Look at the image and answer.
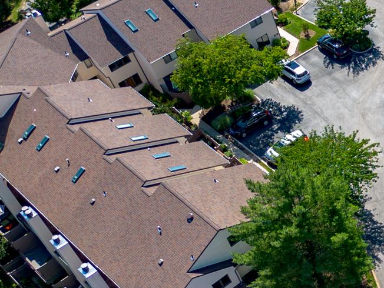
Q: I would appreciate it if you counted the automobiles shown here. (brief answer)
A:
4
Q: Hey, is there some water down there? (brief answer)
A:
No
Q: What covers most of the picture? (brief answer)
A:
buildings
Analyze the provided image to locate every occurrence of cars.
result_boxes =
[263,129,296,159]
[276,58,313,83]
[317,34,353,58]
[225,105,273,139]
